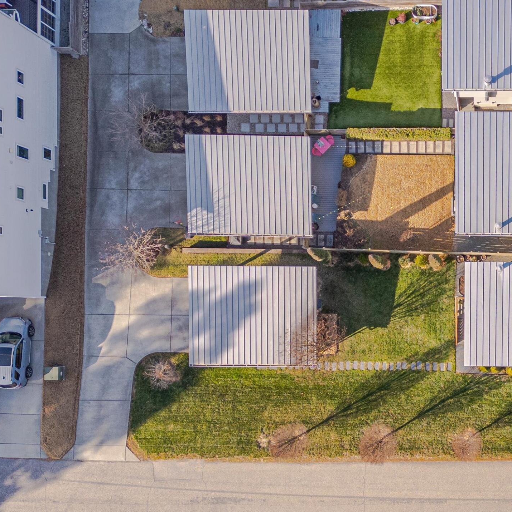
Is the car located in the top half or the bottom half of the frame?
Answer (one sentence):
The car sits in the bottom half of the picture.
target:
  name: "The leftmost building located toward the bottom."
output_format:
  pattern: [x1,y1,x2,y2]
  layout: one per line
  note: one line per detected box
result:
[186,265,319,369]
